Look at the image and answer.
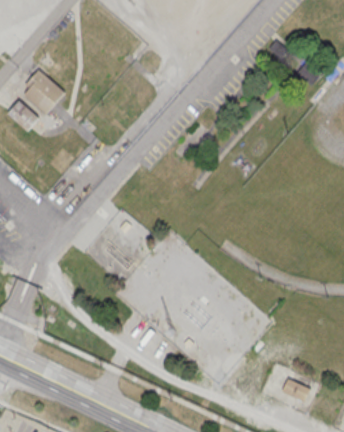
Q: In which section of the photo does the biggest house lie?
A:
top left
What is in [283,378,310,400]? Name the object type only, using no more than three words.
house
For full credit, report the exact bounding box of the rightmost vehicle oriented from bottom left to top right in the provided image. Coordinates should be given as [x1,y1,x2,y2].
[153,340,168,359]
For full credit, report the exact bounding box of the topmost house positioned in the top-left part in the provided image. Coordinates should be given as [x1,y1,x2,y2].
[22,70,66,114]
